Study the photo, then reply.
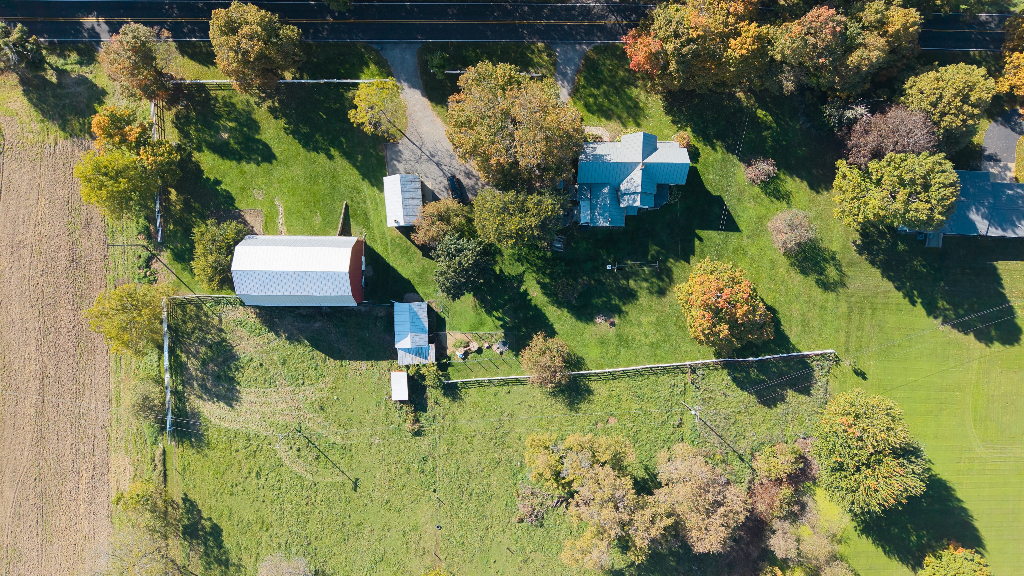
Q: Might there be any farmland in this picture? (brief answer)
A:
Yes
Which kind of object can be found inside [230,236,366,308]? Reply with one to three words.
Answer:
barn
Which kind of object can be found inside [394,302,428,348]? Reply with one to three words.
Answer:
shed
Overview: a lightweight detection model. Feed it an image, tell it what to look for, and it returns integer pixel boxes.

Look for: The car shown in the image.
[447,174,462,201]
